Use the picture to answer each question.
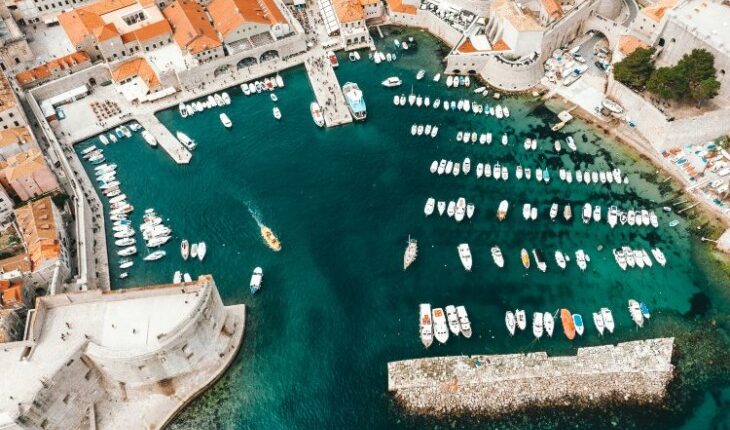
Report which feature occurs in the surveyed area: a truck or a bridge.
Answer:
bridge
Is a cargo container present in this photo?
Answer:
No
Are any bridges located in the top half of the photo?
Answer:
Yes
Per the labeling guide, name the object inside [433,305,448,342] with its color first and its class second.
white boat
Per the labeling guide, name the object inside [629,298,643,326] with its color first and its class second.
white boat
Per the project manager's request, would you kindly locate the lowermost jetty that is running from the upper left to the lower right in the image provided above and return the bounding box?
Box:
[141,113,192,165]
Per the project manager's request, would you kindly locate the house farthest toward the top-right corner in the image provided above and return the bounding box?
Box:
[635,0,681,43]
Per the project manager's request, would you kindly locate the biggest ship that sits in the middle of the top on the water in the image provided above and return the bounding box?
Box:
[344,77,368,123]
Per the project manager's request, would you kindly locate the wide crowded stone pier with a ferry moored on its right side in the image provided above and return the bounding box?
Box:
[304,56,353,129]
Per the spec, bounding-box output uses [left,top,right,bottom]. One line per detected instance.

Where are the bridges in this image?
[579,11,623,53]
